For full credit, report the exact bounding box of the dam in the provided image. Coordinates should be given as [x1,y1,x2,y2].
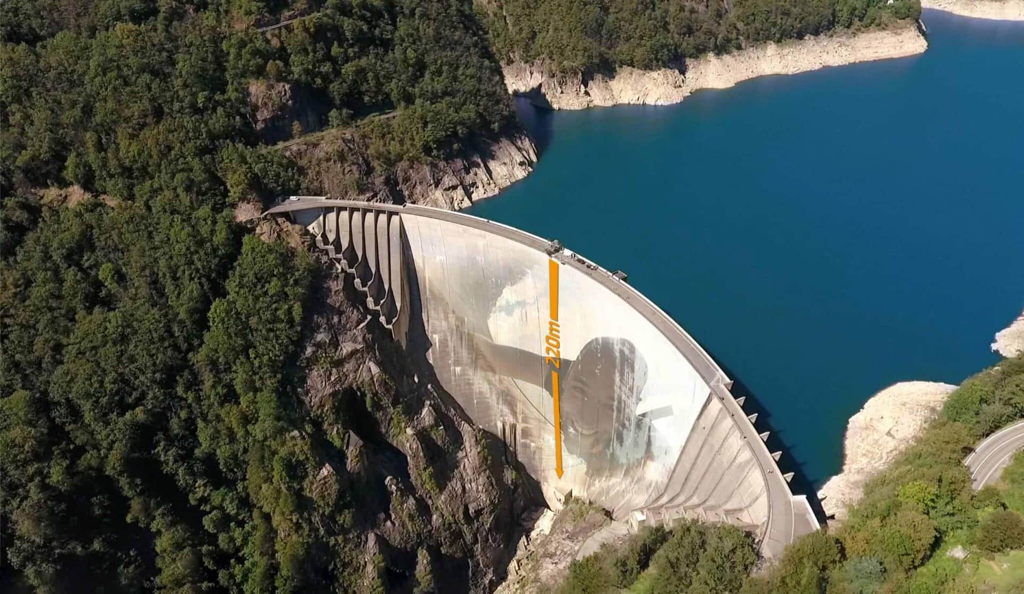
[270,198,806,552]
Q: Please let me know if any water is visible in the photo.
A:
Yes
